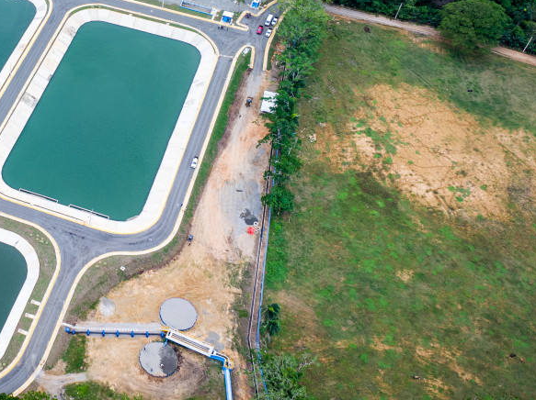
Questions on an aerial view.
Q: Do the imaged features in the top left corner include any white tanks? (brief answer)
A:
No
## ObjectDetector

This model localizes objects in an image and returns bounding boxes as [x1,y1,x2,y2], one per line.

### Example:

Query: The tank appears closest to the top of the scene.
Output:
[159,294,199,330]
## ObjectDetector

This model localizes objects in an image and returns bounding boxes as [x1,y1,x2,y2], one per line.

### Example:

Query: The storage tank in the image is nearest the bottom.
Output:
[139,342,180,379]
